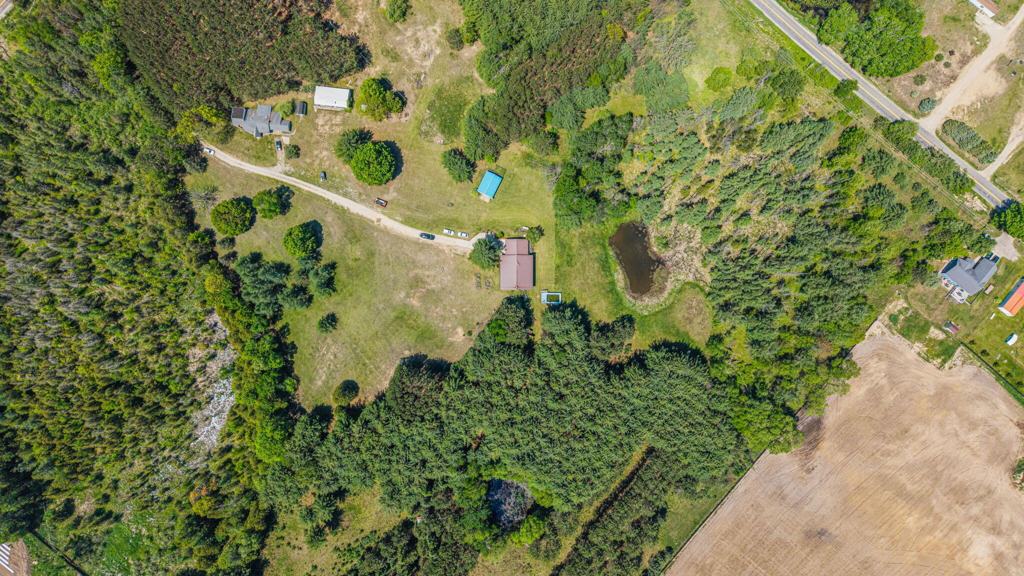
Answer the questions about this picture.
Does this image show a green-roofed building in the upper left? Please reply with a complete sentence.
No, no green-roofed building is visible in the upper left.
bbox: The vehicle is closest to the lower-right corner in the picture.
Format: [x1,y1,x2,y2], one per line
[1003,334,1017,347]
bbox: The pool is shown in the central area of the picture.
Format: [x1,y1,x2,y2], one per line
[543,290,562,305]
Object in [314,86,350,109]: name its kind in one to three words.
barn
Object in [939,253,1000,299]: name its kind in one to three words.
house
